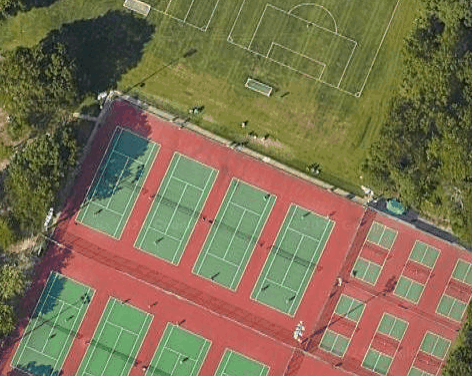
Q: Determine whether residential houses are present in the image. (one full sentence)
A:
No, there isn't any residential house down there.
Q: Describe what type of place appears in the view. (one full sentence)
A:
This looks like a sports ground.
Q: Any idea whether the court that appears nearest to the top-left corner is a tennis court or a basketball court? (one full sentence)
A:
From above, the court that appears nearest to the top-left corner can be identified as a tennis court.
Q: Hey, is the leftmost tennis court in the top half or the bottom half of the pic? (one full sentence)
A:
You can find the leftmost tennis court in the bottom half.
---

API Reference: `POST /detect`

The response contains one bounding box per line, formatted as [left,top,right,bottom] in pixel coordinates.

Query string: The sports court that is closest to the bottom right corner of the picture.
[408,332,451,376]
